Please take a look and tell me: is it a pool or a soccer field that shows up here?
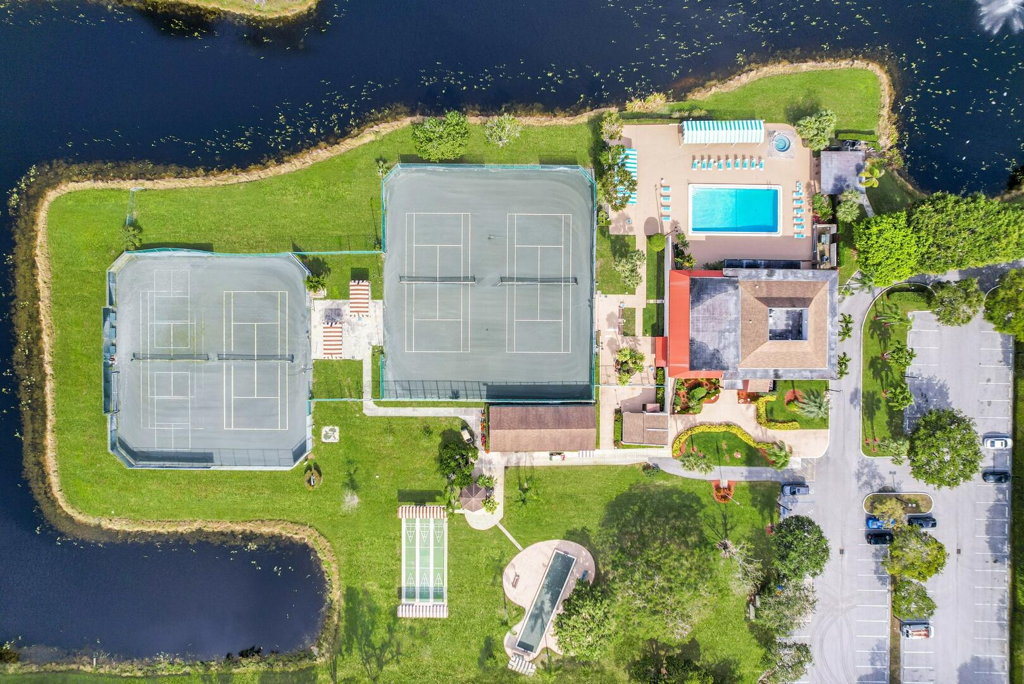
pool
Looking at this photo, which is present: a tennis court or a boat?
tennis court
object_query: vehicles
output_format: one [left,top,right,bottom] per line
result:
[461,427,474,441]
[782,483,810,496]
[865,531,894,545]
[907,517,937,530]
[981,471,1011,484]
[900,622,936,638]
[983,436,1012,449]
[866,516,895,530]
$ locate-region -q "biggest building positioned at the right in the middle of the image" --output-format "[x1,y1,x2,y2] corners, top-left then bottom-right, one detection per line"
[653,260,839,392]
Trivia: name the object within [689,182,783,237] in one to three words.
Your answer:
swimming pool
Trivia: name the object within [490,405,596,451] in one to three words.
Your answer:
building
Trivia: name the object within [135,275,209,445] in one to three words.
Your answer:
tennis court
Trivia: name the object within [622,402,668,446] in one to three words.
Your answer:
shed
